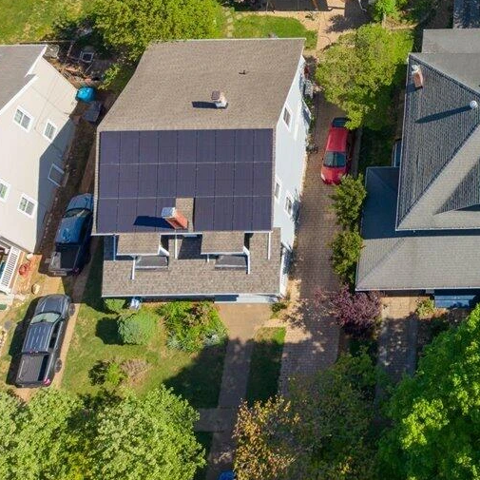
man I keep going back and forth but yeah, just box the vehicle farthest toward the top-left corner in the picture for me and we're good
[43,185,95,281]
